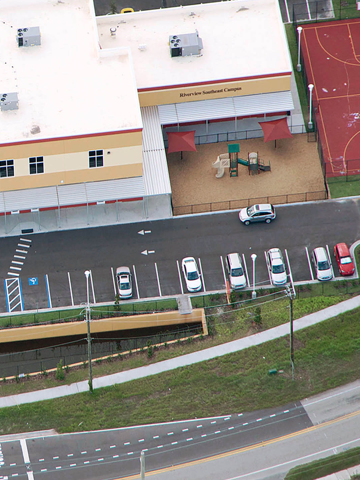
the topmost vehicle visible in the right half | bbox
[239,202,278,225]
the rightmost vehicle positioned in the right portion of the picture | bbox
[335,241,355,274]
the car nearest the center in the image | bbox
[182,256,201,290]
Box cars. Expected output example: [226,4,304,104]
[227,249,248,287]
[182,256,201,290]
[312,242,334,281]
[239,202,278,225]
[268,245,289,283]
[335,241,355,274]
[115,263,134,298]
